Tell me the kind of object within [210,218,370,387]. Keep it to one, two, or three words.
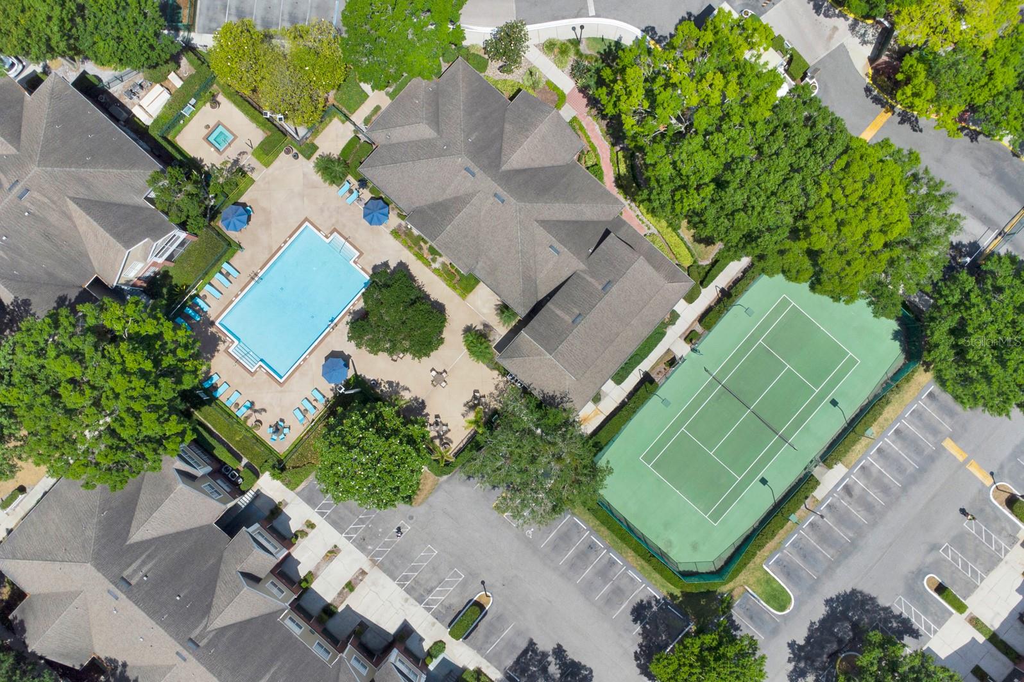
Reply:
swimming pool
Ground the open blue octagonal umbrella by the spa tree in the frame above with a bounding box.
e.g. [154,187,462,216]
[222,205,249,232]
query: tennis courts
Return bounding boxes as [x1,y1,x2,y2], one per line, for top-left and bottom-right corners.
[597,241,907,574]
